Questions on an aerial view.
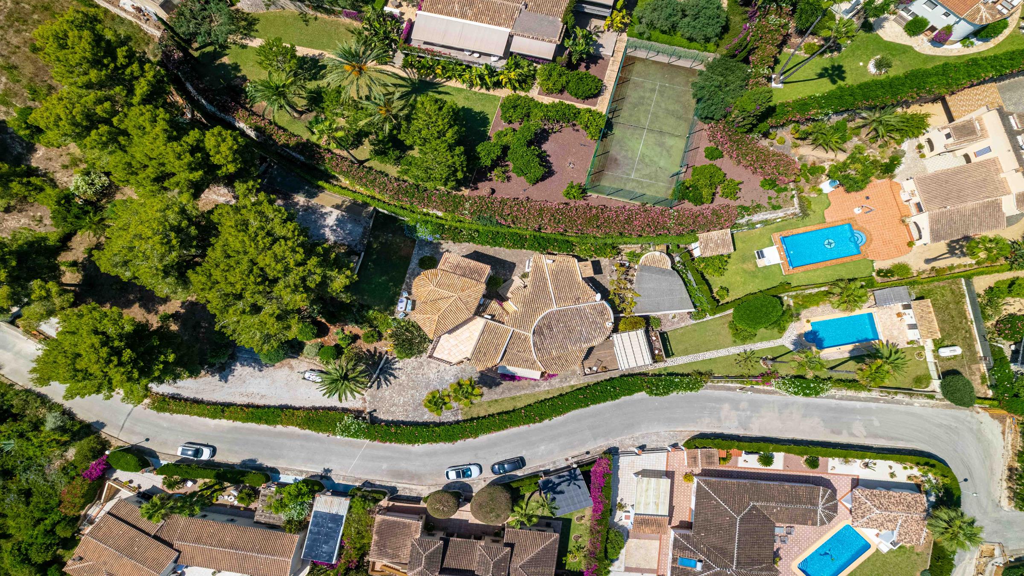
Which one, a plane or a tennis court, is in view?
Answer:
tennis court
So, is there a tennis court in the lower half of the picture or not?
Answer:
No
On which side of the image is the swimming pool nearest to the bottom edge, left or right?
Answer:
right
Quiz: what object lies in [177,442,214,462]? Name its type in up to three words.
car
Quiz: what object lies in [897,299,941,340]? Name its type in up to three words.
building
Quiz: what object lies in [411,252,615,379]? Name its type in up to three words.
house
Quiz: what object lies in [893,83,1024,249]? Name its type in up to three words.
house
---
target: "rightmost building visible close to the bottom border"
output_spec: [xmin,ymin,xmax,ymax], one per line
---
[835,487,927,554]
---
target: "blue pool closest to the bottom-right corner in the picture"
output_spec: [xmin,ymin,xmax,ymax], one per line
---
[798,525,871,576]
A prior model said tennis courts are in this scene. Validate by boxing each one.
[587,49,703,206]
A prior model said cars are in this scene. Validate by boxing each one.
[445,462,481,481]
[491,456,526,476]
[177,442,214,462]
